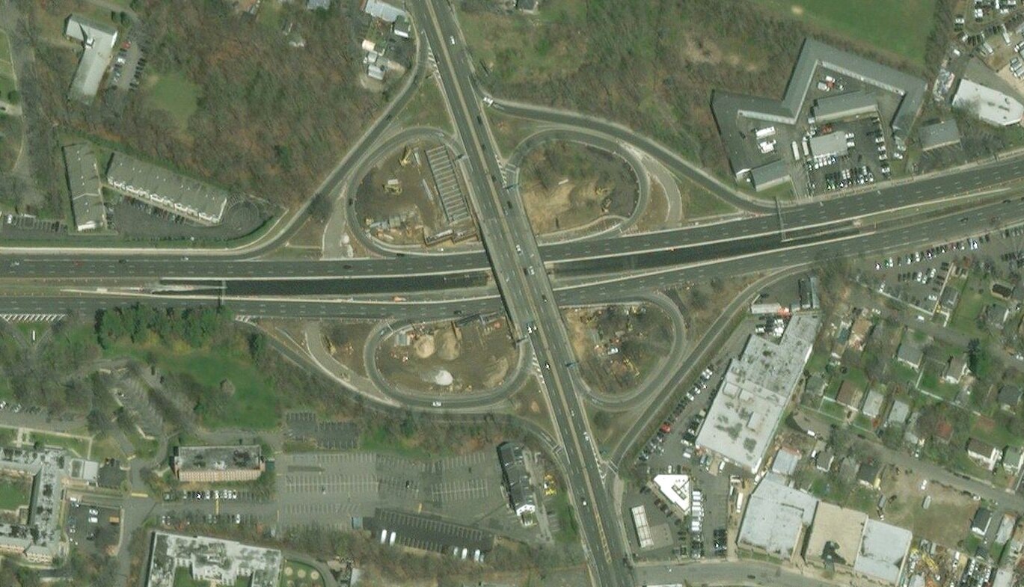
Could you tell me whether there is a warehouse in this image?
Yes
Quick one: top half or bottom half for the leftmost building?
bottom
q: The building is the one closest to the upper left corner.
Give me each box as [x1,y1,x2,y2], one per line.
[66,13,120,110]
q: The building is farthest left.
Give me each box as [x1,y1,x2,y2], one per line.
[0,448,70,555]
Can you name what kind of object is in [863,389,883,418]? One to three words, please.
house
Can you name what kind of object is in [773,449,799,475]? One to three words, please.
shed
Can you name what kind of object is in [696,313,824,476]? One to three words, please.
warehouse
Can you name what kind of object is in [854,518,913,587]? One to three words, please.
building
